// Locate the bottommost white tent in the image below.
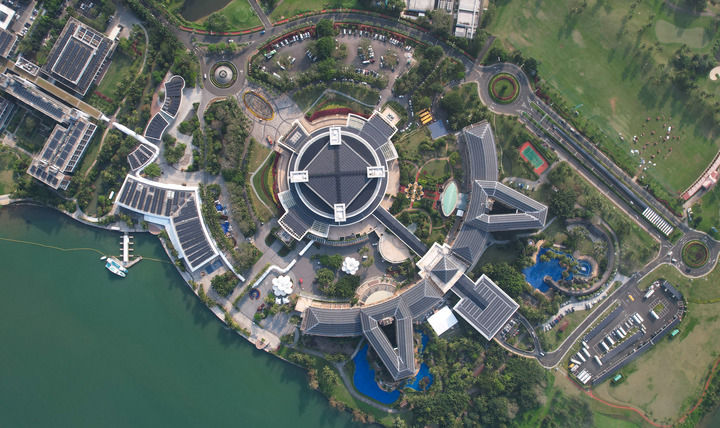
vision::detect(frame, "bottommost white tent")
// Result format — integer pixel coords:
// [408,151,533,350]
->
[427,304,458,335]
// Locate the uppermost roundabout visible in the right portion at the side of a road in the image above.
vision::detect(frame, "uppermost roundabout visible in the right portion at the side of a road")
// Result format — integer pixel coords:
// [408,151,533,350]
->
[479,63,529,114]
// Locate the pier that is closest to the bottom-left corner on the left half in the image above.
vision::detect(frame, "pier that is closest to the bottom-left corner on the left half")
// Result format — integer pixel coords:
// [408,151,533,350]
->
[111,232,143,268]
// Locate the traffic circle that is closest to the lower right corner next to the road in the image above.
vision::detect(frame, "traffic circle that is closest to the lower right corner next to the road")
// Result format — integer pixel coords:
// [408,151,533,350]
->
[673,231,719,277]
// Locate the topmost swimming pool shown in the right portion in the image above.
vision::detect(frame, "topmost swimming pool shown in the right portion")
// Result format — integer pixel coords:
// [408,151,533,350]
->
[441,180,459,217]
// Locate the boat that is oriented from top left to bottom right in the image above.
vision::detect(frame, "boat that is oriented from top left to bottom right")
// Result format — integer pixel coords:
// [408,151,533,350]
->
[105,259,127,276]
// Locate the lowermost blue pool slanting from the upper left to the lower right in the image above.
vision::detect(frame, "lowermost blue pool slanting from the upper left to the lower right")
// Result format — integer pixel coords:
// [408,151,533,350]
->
[352,343,401,405]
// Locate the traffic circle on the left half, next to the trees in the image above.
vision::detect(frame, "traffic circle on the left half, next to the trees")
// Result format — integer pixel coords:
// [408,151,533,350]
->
[199,52,247,98]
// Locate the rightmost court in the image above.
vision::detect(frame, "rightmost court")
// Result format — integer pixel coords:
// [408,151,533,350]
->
[519,141,550,176]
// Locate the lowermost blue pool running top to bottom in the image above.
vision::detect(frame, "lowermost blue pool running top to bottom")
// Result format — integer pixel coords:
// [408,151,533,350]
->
[404,331,435,392]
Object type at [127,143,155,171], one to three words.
building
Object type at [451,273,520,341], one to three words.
building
